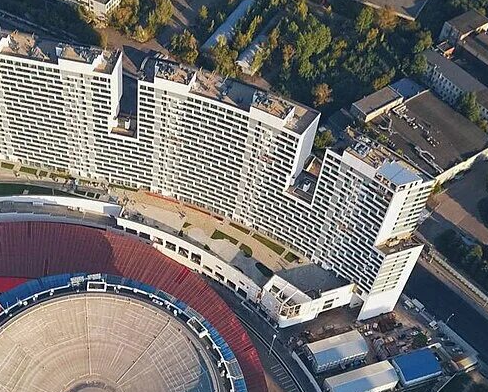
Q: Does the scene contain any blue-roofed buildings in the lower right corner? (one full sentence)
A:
Yes, a blue-roofed building appears in the lower right corner.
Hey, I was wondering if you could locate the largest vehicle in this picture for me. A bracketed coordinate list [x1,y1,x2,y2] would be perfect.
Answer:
[410,293,428,310]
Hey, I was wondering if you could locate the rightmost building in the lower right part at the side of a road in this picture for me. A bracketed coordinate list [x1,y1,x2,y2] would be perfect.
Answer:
[446,354,480,377]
